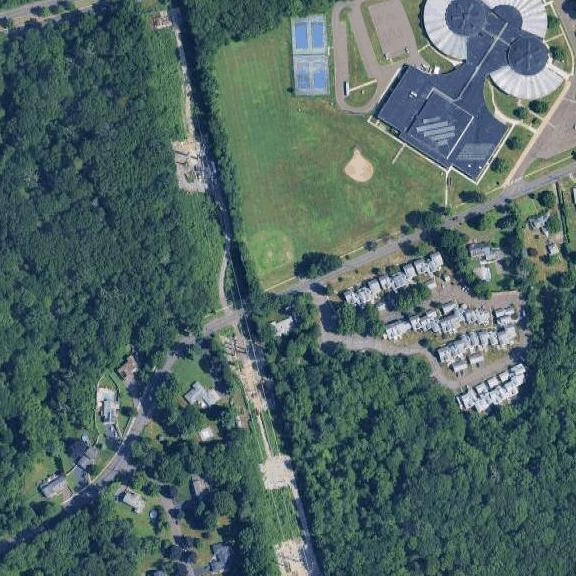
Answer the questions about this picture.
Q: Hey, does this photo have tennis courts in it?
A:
Yes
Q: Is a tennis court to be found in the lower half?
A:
No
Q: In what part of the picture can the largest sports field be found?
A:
top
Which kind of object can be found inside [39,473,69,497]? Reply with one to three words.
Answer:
house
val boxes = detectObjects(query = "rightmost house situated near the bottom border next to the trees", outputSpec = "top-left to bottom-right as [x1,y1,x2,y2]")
[211,542,231,572]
